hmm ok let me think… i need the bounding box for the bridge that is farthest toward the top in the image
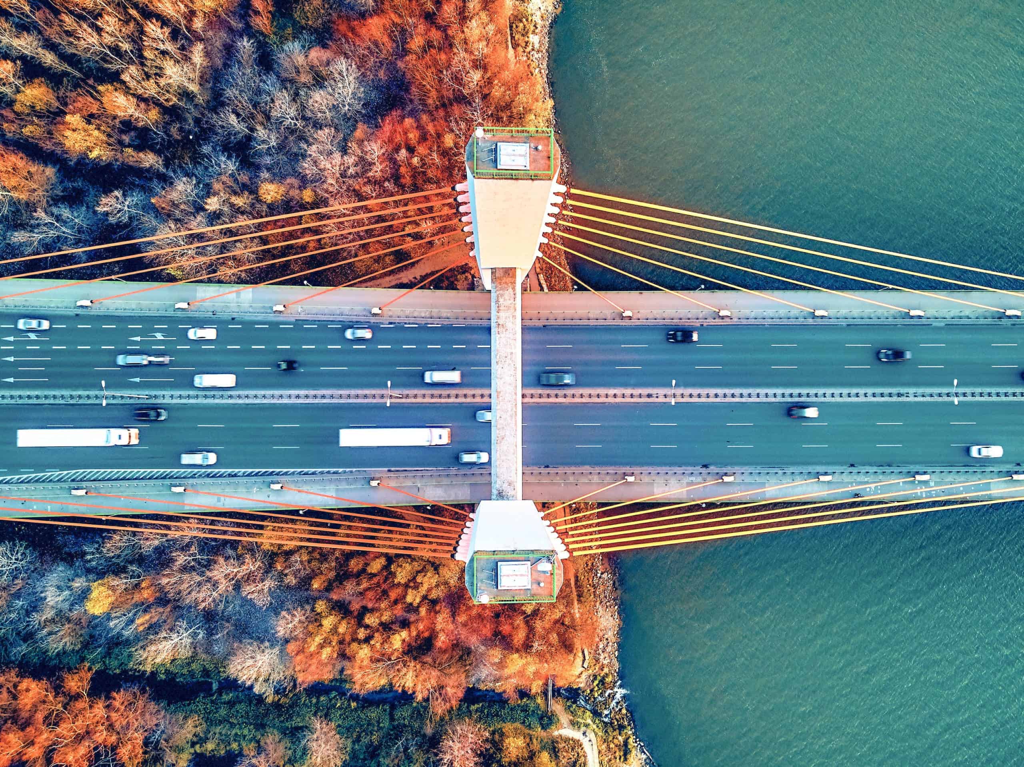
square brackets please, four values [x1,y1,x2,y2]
[0,128,1024,604]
